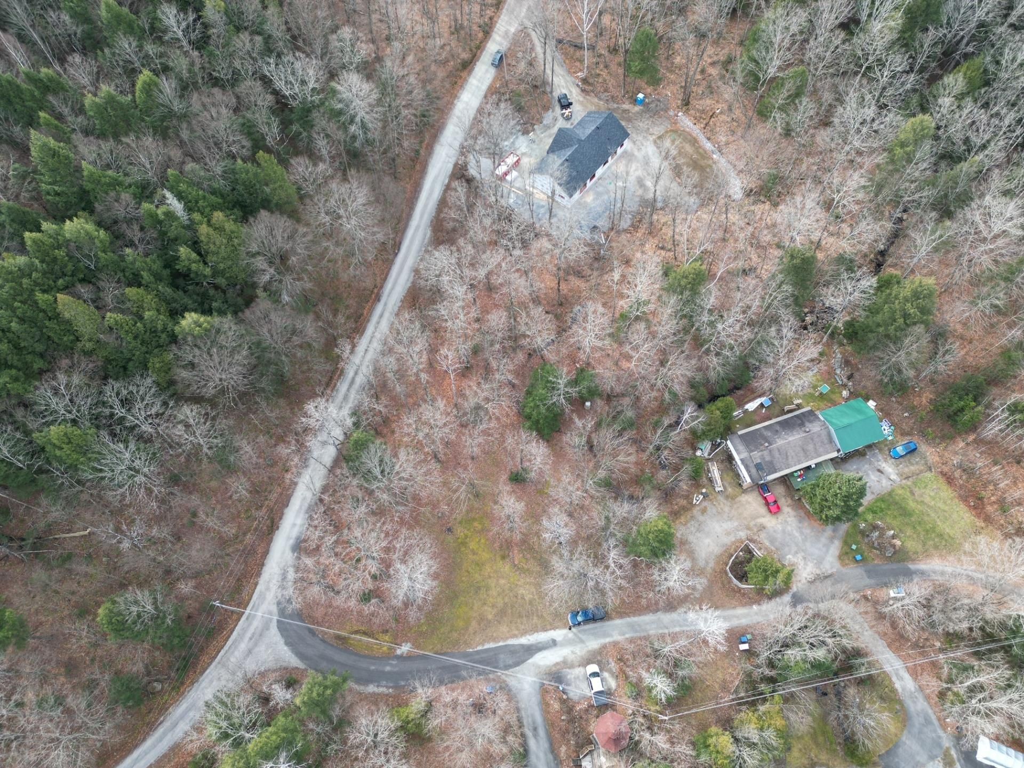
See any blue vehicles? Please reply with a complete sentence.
Yes, a blue vehicle is visible in the scene.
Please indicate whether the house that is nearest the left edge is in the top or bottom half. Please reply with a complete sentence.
It is in the top half that the house that is nearest the left edge appears.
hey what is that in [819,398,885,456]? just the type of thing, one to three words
building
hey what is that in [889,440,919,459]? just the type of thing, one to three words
car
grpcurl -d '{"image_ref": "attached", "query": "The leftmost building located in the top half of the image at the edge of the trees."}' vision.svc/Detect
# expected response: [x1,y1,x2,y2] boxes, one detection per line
[529,111,630,205]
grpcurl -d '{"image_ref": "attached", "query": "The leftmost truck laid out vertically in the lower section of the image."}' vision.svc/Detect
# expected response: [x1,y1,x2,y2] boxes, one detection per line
[586,662,608,707]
